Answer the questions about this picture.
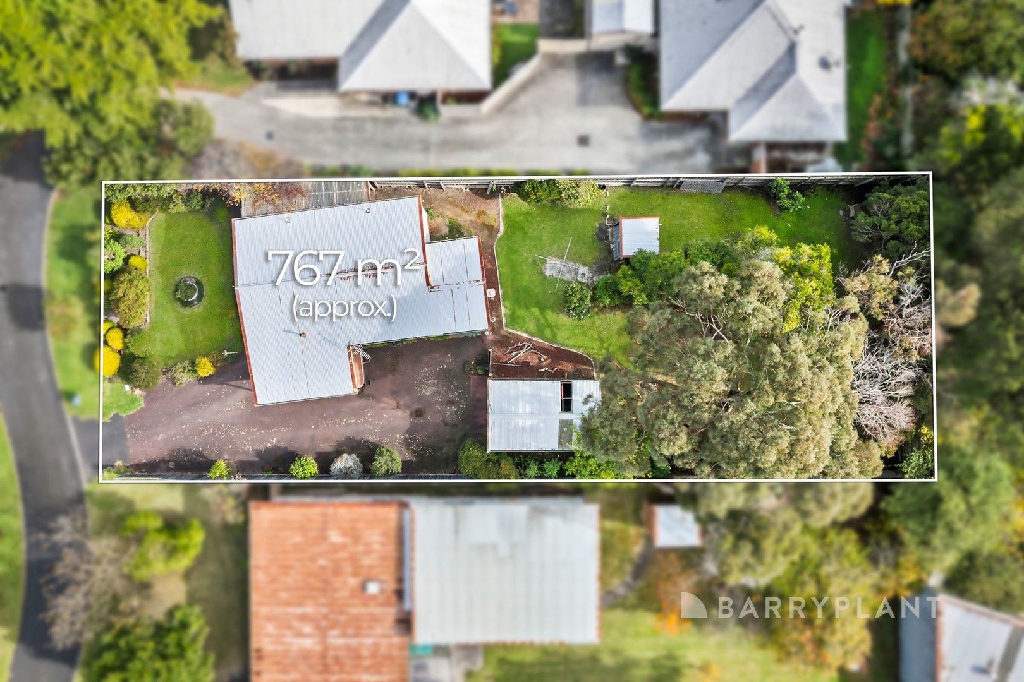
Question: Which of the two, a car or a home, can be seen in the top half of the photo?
home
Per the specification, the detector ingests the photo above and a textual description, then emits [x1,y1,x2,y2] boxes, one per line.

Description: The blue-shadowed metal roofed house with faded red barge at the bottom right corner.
[901,585,1024,682]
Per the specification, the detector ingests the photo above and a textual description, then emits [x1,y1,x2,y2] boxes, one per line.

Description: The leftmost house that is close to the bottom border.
[247,500,412,682]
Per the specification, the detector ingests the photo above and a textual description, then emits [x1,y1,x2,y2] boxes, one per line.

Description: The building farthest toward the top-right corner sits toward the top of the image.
[655,0,857,145]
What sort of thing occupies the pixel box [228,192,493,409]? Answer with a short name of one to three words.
house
